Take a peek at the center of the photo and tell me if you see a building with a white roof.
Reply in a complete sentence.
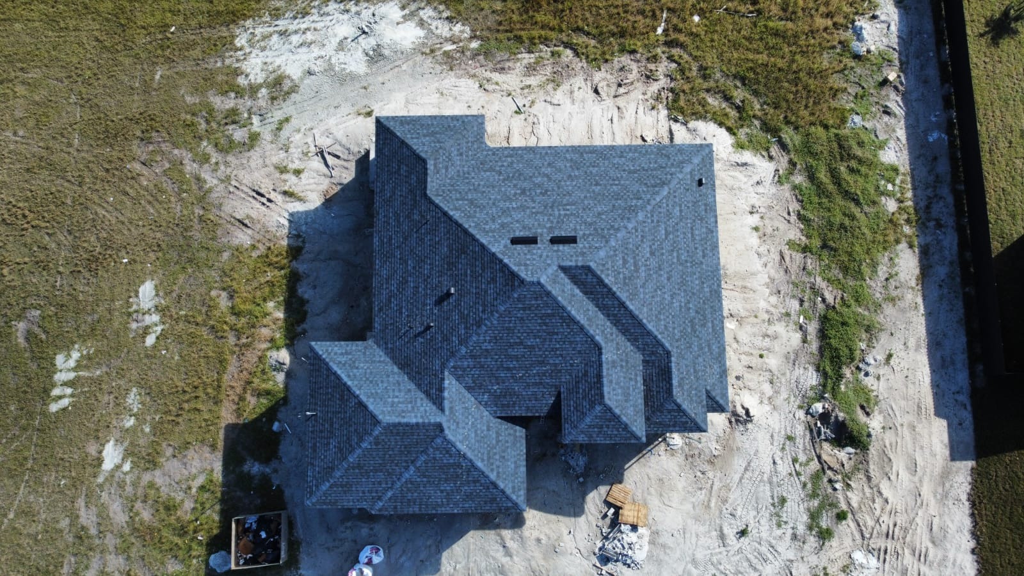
No, no building with a white roof is visible at the center of the photo.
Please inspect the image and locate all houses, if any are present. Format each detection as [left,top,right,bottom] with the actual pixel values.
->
[303,112,730,515]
